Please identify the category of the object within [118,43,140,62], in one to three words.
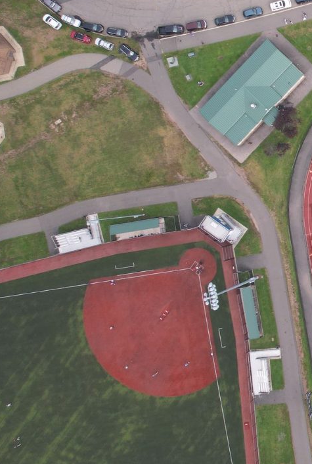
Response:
car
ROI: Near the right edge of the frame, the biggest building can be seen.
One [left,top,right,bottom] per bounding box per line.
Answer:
[198,39,305,146]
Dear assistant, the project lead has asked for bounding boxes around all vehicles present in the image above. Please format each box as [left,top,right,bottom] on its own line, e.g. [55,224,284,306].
[158,24,185,35]
[243,7,264,19]
[42,0,65,14]
[186,20,208,31]
[270,0,291,11]
[42,13,64,31]
[82,21,105,34]
[106,26,129,38]
[70,29,92,44]
[94,37,116,51]
[118,43,140,62]
[215,14,236,26]
[60,12,82,29]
